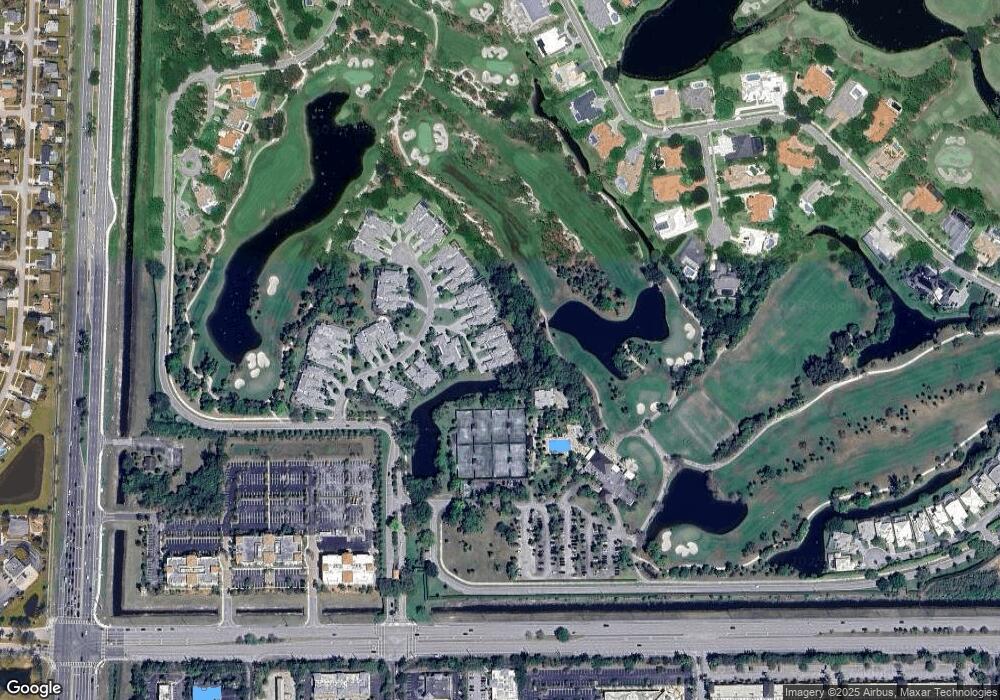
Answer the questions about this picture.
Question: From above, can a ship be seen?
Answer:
No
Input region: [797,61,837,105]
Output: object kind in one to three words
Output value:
house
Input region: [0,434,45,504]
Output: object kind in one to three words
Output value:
pond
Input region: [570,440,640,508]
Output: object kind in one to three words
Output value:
building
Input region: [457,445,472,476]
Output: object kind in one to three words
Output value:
tennis court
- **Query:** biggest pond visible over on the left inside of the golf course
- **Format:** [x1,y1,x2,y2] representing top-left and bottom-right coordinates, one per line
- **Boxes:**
[206,93,376,361]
